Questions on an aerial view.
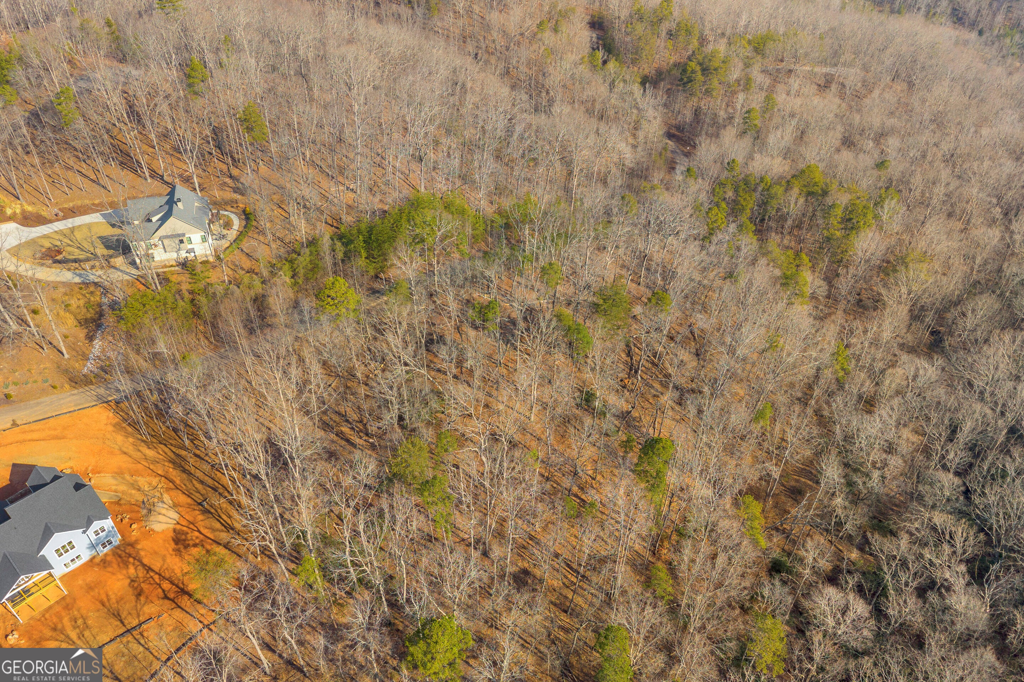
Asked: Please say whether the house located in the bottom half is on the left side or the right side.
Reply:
left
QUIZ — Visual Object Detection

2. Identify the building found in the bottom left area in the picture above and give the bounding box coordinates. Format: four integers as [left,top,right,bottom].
[0,466,123,624]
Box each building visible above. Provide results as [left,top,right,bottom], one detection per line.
[0,466,123,624]
[127,184,215,269]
